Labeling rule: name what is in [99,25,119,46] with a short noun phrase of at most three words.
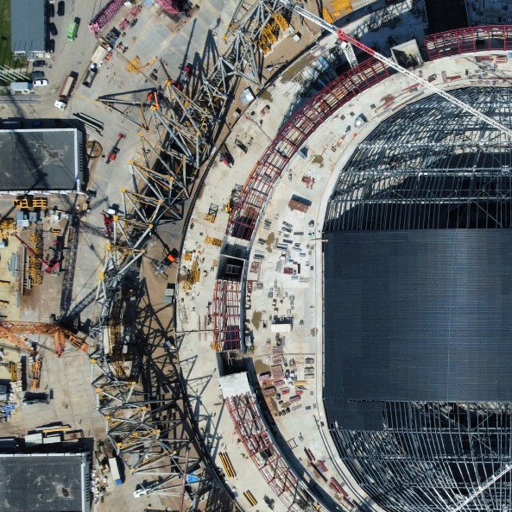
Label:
vehicle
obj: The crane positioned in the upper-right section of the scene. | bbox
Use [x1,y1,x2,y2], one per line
[274,0,512,137]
